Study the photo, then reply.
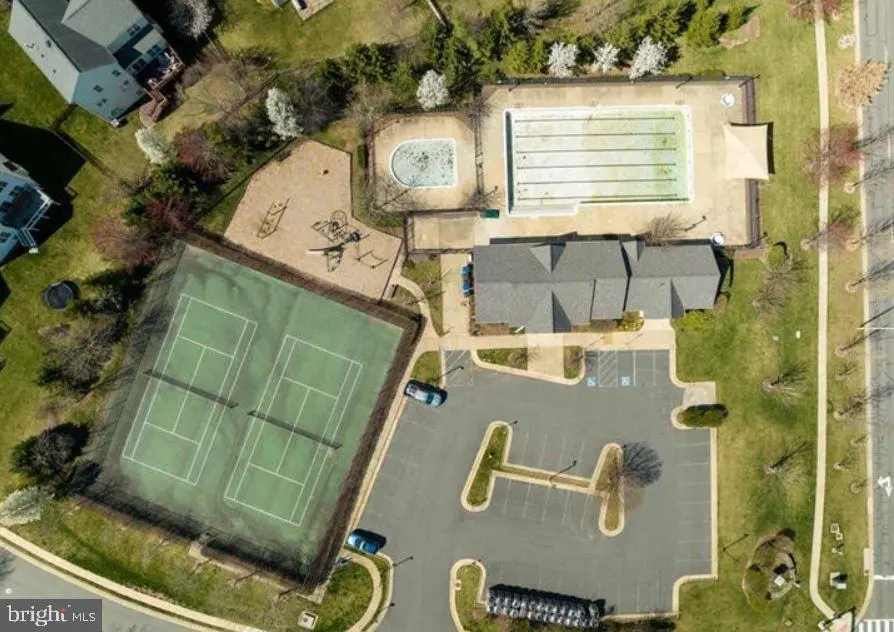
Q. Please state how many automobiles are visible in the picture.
two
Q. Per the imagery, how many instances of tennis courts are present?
two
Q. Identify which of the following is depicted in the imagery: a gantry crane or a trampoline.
trampoline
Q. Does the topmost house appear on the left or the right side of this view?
left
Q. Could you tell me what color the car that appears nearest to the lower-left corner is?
blue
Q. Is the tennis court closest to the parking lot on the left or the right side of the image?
left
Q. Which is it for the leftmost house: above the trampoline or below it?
above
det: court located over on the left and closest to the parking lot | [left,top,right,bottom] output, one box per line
[190,286,405,590]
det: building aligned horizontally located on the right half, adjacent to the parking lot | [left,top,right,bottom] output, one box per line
[472,242,720,333]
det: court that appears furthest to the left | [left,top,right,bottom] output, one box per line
[77,244,296,541]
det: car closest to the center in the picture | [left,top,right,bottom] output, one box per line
[406,385,442,405]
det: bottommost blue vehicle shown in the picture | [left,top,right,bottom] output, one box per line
[347,534,379,556]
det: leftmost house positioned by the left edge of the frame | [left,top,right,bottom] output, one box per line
[0,150,63,268]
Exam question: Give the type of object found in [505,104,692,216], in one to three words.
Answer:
swimming pool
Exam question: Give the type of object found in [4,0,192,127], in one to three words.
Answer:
house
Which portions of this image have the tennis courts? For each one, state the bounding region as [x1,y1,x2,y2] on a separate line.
[190,286,405,590]
[77,244,296,541]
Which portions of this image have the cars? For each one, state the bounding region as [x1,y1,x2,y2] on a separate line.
[406,385,442,405]
[347,534,379,556]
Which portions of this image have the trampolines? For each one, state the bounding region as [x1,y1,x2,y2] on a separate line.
[43,284,73,310]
